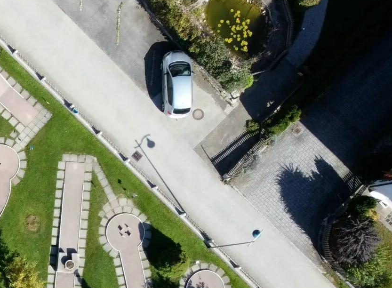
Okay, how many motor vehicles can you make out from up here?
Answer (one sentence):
Only 1 motor vehicle is visible.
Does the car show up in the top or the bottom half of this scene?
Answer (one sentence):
You can find the car in the top half.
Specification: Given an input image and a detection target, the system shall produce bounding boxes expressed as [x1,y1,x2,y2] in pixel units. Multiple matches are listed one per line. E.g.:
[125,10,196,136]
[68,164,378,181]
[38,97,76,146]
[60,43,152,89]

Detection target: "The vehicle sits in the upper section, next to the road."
[158,55,195,120]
